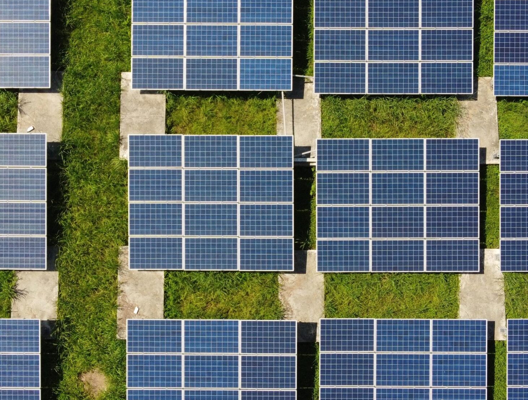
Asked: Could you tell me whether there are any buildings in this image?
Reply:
No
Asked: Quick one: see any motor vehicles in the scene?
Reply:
No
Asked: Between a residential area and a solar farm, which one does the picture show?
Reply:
solar farm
